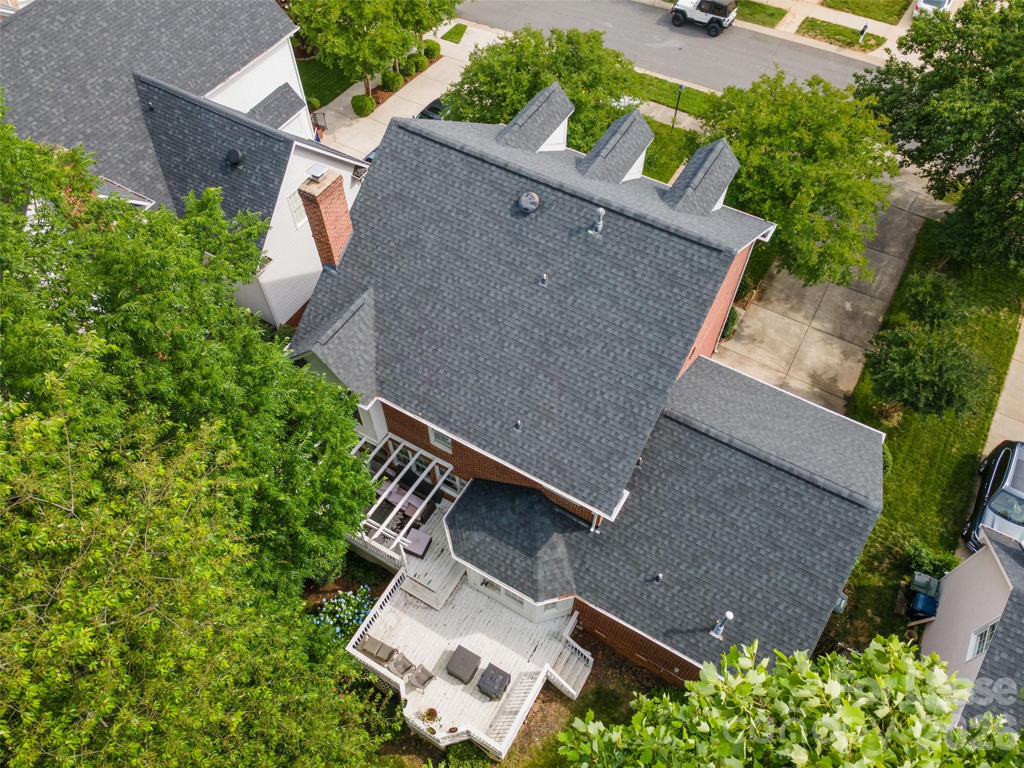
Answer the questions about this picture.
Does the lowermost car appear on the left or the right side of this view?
right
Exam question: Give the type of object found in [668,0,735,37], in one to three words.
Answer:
car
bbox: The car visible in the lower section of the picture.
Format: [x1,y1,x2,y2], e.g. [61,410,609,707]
[966,444,1024,544]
